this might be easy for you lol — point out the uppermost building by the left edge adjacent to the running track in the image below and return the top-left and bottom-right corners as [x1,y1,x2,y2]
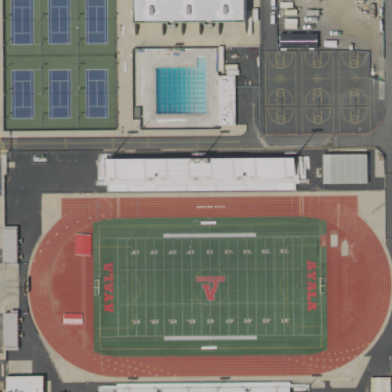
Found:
[2,227,20,264]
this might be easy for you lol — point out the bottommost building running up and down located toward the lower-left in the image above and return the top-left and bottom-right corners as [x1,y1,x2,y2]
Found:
[3,312,20,350]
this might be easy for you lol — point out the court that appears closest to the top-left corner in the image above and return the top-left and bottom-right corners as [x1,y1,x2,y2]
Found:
[12,0,34,45]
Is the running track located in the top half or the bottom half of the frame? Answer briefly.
bottom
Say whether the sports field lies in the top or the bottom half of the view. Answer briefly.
bottom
